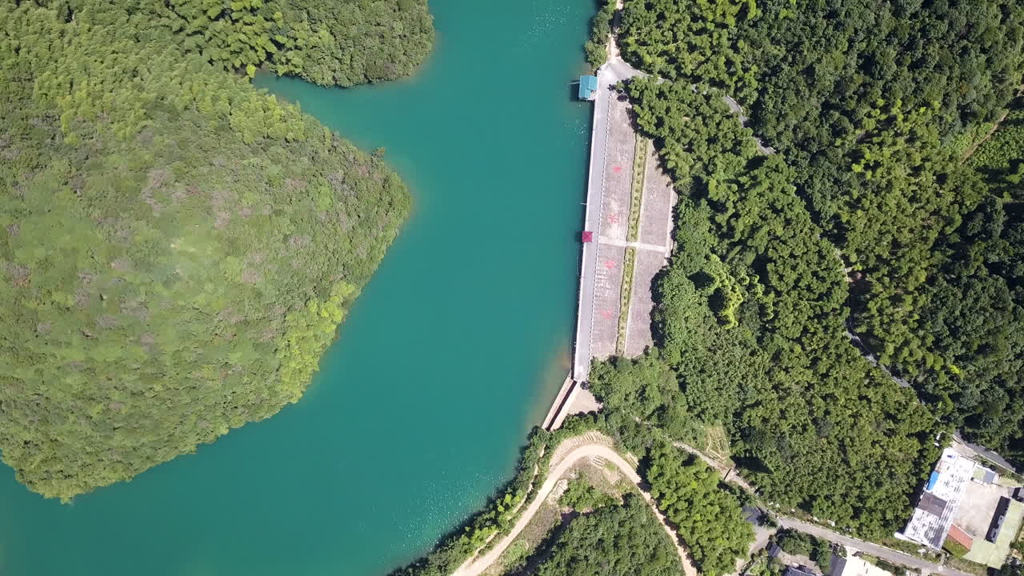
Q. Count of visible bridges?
0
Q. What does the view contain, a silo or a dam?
dam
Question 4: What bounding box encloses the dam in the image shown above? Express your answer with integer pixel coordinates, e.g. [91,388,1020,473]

[572,94,680,382]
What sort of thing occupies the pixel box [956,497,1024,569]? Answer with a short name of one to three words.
building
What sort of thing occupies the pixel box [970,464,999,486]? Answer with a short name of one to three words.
shed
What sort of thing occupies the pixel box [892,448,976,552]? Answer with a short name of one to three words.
building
